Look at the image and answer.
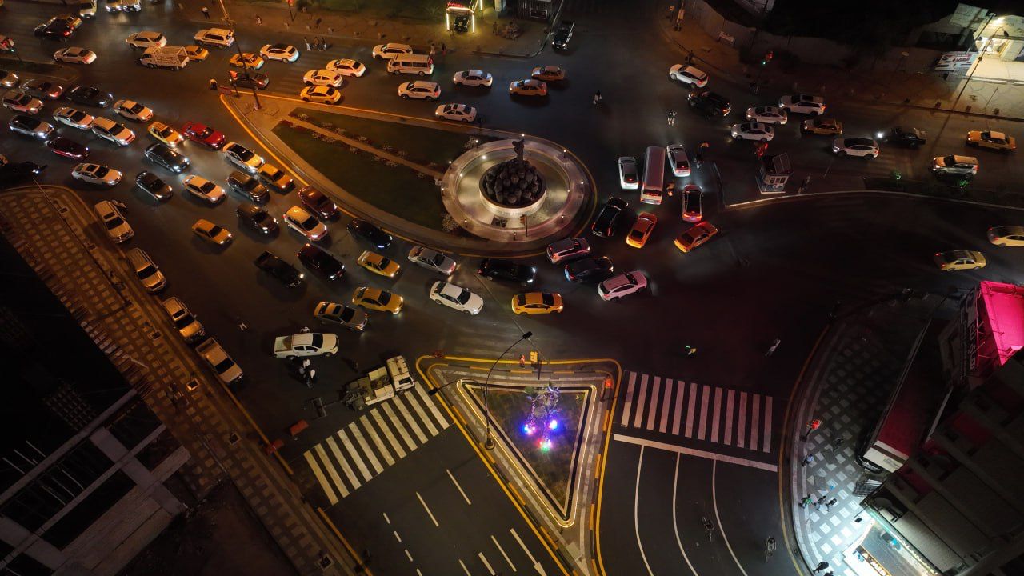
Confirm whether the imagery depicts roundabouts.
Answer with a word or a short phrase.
Yes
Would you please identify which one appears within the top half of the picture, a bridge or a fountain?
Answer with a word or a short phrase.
fountain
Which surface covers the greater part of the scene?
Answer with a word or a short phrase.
paved ground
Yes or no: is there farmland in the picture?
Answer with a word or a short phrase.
No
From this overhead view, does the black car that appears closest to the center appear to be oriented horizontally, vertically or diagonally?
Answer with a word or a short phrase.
horizontally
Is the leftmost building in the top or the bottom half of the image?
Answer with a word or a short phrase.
bottom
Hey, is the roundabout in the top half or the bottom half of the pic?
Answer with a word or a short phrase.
top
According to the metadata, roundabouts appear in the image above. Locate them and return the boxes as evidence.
[227,92,595,255]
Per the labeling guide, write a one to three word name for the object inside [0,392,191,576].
building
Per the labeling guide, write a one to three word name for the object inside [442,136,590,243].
fountain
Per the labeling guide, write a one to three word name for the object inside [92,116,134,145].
car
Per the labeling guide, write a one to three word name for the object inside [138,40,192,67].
truck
